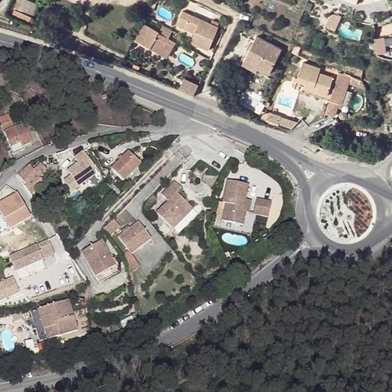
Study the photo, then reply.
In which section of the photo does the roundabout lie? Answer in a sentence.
The roundabout is in the right part of the image.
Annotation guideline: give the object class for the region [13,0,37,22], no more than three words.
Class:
shed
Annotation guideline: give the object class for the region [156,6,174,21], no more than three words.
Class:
swimming pool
